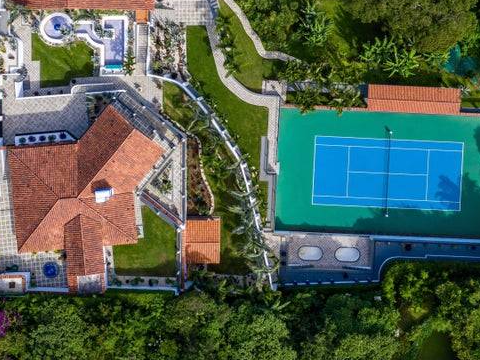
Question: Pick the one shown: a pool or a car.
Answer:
pool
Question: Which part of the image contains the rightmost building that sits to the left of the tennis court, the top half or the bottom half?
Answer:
bottom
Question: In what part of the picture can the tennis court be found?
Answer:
right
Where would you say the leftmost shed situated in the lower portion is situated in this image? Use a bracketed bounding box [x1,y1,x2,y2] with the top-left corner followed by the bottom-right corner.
[0,270,34,294]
